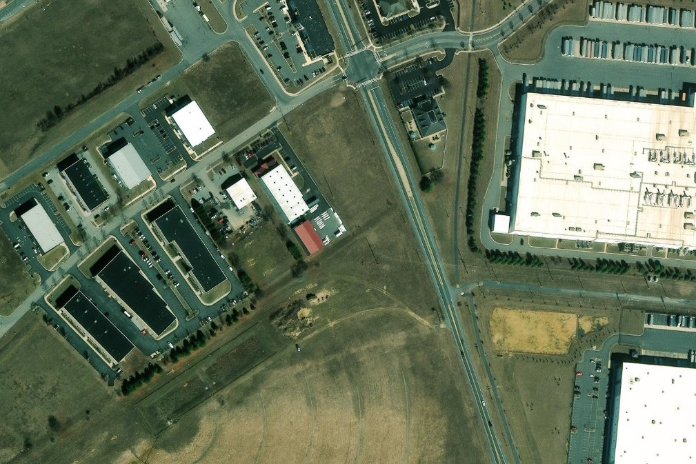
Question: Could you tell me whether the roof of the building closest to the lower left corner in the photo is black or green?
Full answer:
The roof of the building closest to the lower left corner looks black in the image.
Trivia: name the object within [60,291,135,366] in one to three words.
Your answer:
building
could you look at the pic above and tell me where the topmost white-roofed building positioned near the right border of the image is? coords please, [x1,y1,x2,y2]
[509,93,696,250]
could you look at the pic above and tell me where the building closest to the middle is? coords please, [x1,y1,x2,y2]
[292,221,323,255]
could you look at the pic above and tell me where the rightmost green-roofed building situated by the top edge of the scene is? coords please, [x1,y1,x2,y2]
[375,0,409,18]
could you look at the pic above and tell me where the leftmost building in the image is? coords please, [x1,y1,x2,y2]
[17,205,64,254]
